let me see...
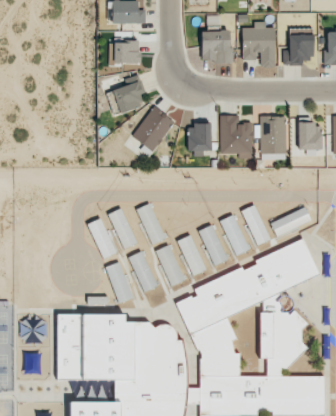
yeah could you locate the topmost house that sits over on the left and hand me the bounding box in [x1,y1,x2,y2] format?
[114,0,146,24]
